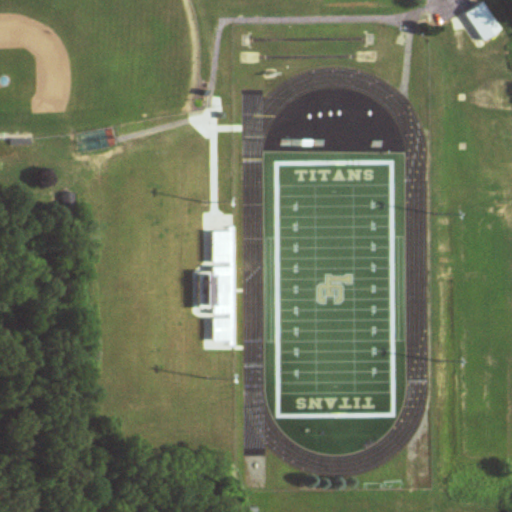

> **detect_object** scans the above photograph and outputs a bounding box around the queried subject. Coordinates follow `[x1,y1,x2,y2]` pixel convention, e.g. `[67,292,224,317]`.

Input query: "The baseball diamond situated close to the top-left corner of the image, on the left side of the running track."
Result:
[0,13,71,113]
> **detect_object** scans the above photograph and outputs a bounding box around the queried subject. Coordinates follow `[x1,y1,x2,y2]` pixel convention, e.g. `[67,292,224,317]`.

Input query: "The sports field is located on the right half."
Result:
[266,152,405,453]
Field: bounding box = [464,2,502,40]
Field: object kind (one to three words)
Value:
building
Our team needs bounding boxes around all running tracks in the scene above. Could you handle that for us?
[244,68,427,474]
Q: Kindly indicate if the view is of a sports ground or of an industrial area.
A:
sports ground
